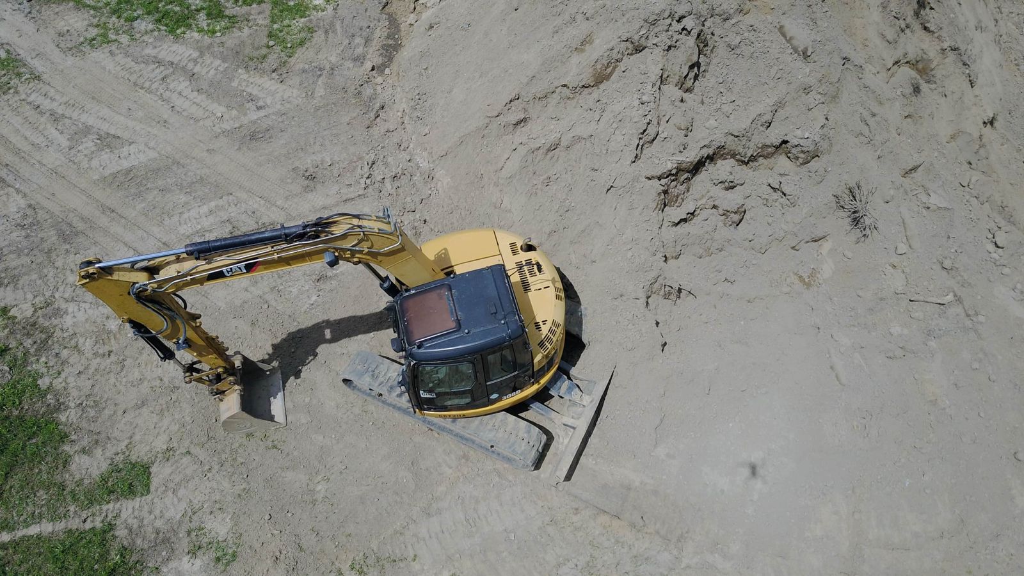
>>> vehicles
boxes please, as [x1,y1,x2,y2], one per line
[69,183,621,486]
